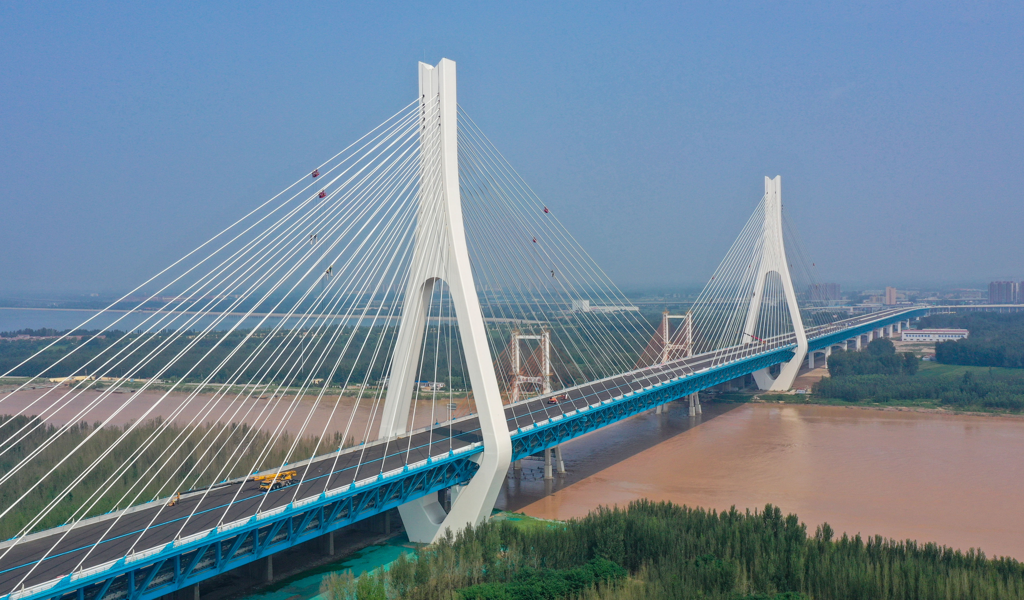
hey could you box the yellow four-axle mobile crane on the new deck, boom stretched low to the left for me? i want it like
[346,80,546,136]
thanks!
[174,466,299,502]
